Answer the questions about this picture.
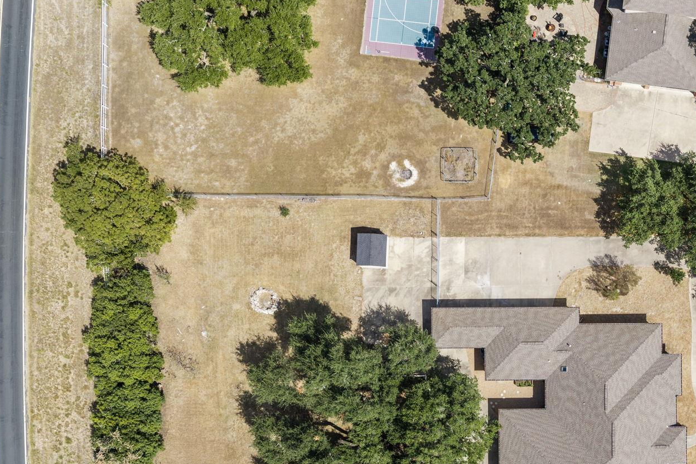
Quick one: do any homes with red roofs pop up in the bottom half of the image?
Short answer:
No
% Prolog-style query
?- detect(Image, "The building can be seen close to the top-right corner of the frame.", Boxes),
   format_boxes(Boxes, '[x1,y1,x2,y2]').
[603,0,696,96]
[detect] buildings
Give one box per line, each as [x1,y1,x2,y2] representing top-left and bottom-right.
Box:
[431,307,687,464]
[357,232,392,268]
[603,0,696,96]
